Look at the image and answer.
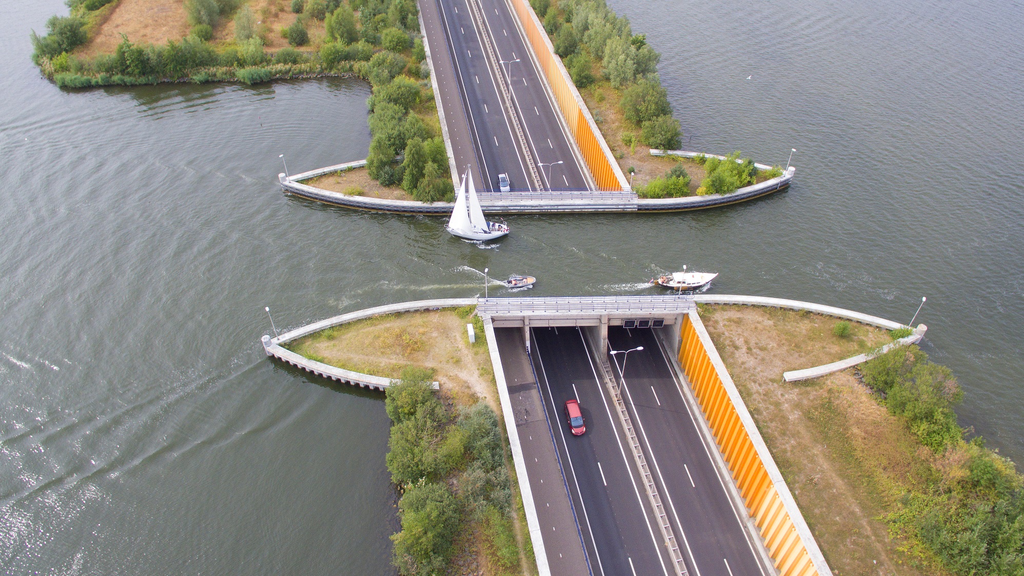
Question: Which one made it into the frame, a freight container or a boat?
boat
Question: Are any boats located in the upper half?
Yes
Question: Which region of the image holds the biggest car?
bottom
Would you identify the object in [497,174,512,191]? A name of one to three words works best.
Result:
car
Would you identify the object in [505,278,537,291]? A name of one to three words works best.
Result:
boat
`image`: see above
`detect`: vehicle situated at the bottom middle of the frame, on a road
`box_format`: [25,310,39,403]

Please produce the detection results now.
[563,404,587,441]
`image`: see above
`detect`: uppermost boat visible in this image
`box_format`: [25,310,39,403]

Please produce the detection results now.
[442,161,516,241]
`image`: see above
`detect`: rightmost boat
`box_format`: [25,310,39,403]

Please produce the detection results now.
[649,266,718,289]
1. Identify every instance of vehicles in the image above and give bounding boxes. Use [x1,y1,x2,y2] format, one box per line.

[563,404,587,441]
[497,174,512,191]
